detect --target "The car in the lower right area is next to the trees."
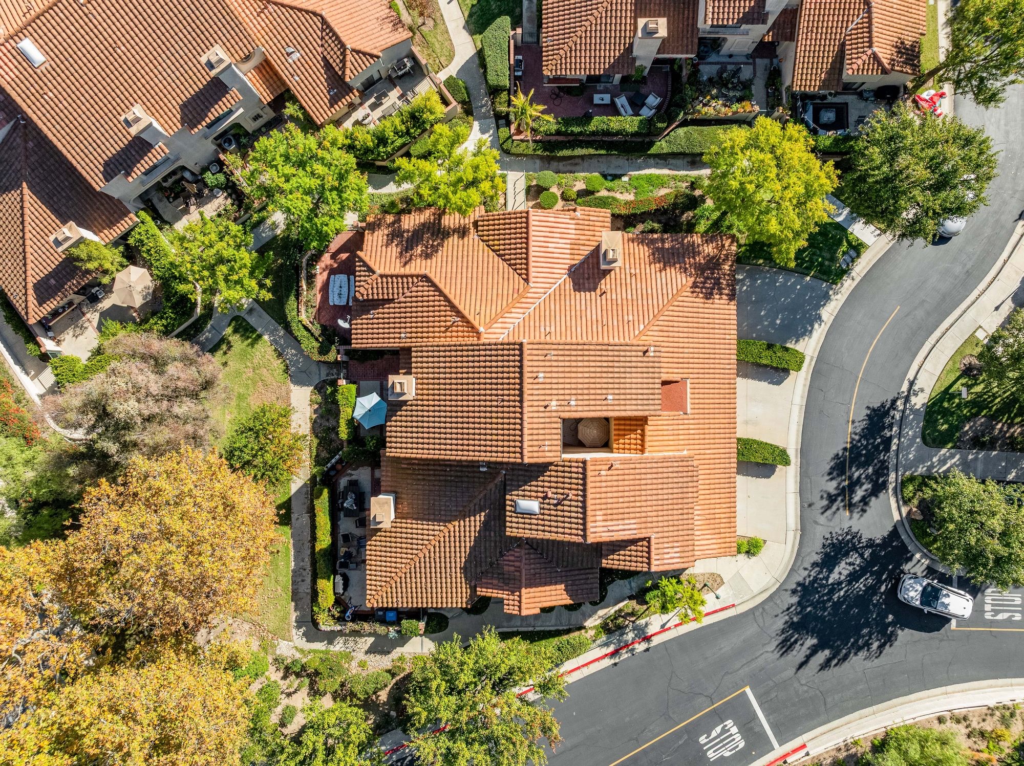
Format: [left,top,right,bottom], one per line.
[892,572,977,621]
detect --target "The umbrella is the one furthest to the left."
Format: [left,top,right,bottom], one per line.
[115,267,161,308]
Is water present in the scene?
No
